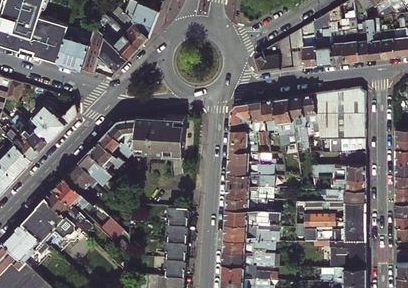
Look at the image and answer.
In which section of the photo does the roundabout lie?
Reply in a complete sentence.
You can find the roundabout in the top area of the picture.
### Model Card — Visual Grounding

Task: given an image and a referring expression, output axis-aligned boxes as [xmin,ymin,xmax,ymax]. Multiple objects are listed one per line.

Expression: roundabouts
[160,22,235,97]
